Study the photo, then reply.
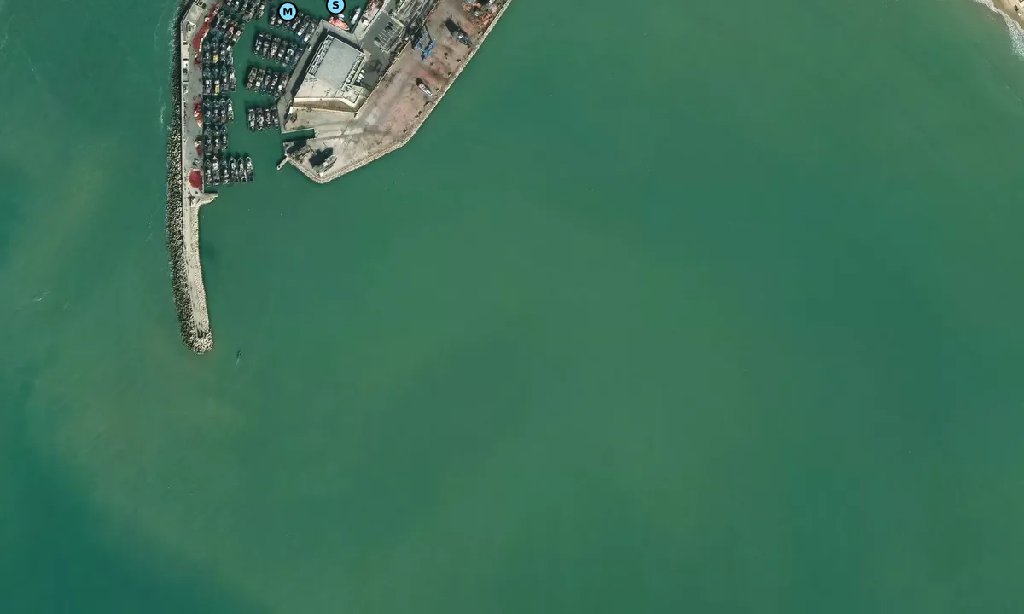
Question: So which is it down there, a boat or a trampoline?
boat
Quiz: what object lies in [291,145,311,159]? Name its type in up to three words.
vessel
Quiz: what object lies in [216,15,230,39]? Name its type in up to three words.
boat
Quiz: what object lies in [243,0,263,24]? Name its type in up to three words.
boat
